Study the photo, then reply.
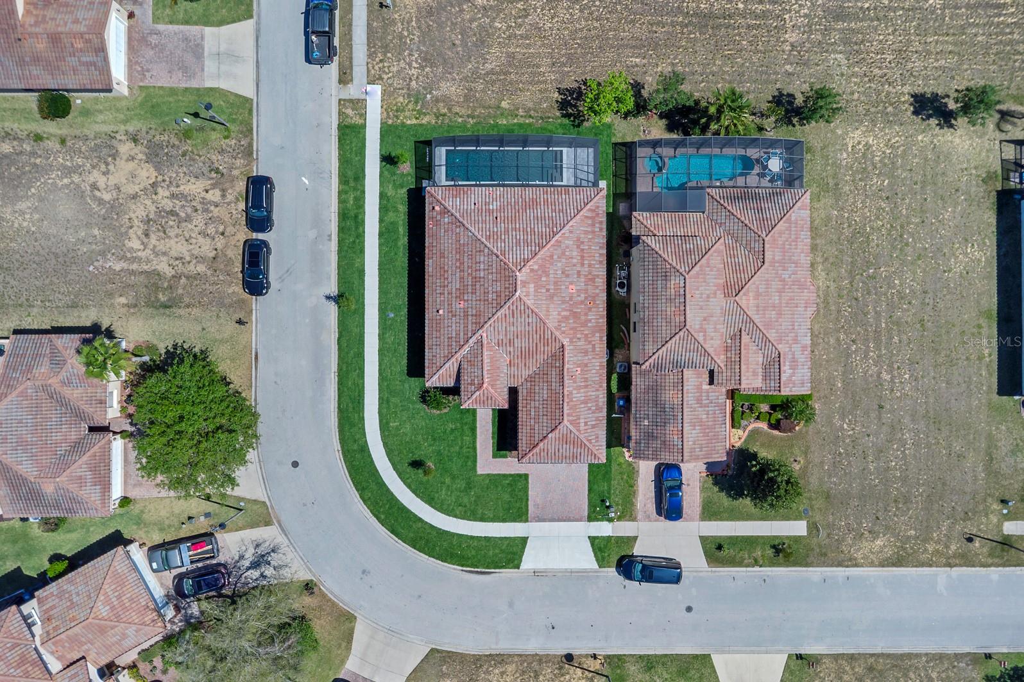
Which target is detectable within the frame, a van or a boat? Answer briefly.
van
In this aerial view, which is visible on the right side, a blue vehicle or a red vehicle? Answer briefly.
blue vehicle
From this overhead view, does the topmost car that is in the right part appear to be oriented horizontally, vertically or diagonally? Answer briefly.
vertically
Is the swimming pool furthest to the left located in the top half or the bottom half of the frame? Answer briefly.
top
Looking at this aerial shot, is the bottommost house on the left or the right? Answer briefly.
left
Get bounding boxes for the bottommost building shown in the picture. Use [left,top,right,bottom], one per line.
[0,542,177,682]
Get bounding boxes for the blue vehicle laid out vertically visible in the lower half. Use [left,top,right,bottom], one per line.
[658,464,686,522]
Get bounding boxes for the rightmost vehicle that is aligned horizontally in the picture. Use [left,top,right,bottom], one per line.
[621,555,684,587]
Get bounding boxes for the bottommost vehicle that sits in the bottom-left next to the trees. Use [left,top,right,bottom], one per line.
[173,563,232,598]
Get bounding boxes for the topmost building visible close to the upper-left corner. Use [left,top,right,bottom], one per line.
[0,0,130,96]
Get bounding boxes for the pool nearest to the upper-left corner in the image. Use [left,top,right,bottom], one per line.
[443,147,565,181]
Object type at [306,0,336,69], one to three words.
truck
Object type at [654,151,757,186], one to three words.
swimming pool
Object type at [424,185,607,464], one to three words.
house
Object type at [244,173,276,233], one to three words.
car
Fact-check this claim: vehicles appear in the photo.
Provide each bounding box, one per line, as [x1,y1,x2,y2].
[244,173,276,233]
[621,555,684,587]
[306,0,336,69]
[173,563,232,598]
[242,238,273,297]
[658,464,686,522]
[150,533,224,570]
